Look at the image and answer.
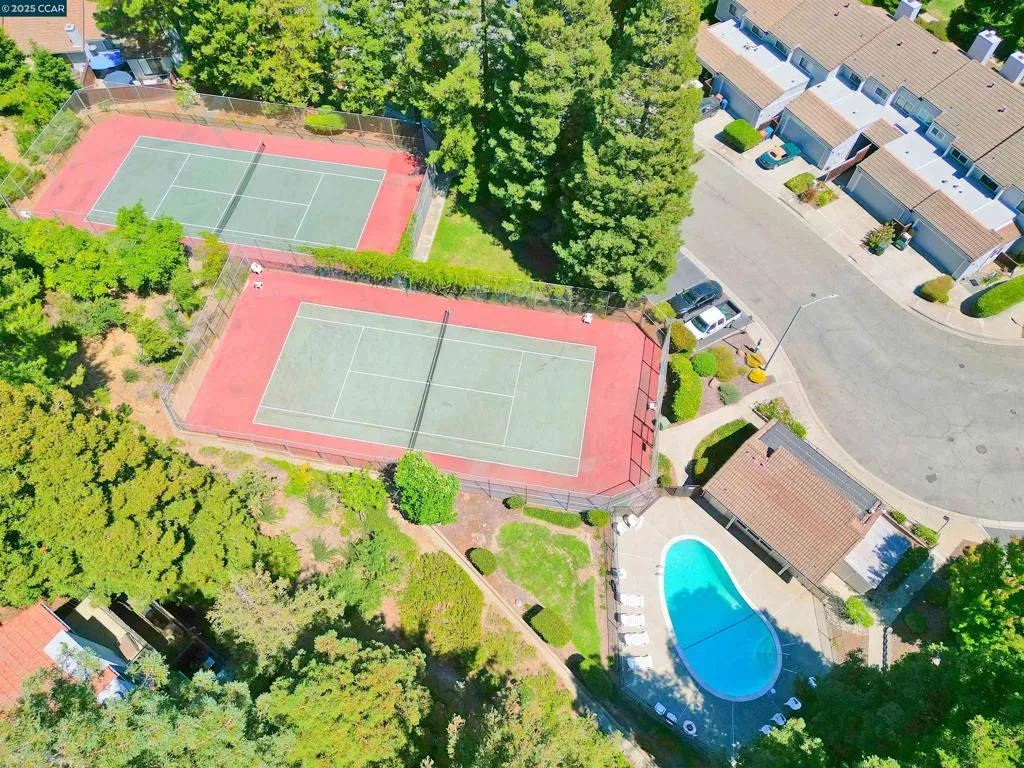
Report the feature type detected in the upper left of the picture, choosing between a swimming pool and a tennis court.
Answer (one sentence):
There is a tennis court in the upper left of the picture.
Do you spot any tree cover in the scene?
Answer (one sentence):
Yes, the picture does contain tree cover.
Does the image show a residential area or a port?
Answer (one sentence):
The area seen from above is a residential area.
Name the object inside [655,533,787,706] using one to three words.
swimming pool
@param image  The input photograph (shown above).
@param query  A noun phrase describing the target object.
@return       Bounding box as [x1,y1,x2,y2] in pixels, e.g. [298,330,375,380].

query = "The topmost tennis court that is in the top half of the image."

[33,114,429,283]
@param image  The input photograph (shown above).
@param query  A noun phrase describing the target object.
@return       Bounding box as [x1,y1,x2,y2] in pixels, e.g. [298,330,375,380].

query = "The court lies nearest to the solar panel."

[186,267,660,514]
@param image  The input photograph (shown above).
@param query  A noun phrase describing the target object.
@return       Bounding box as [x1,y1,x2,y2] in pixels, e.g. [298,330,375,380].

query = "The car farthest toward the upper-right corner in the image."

[755,137,804,165]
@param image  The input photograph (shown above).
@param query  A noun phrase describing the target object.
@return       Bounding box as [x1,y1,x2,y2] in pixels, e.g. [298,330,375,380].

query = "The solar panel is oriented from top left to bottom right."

[766,424,874,514]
